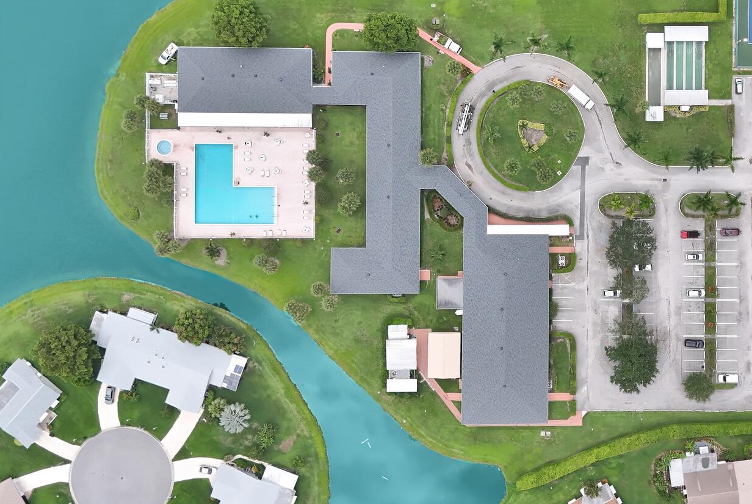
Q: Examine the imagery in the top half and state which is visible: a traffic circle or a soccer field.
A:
traffic circle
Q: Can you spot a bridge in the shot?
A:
No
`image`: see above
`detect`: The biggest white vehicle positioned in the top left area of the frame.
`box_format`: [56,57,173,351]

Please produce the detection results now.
[159,42,177,64]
